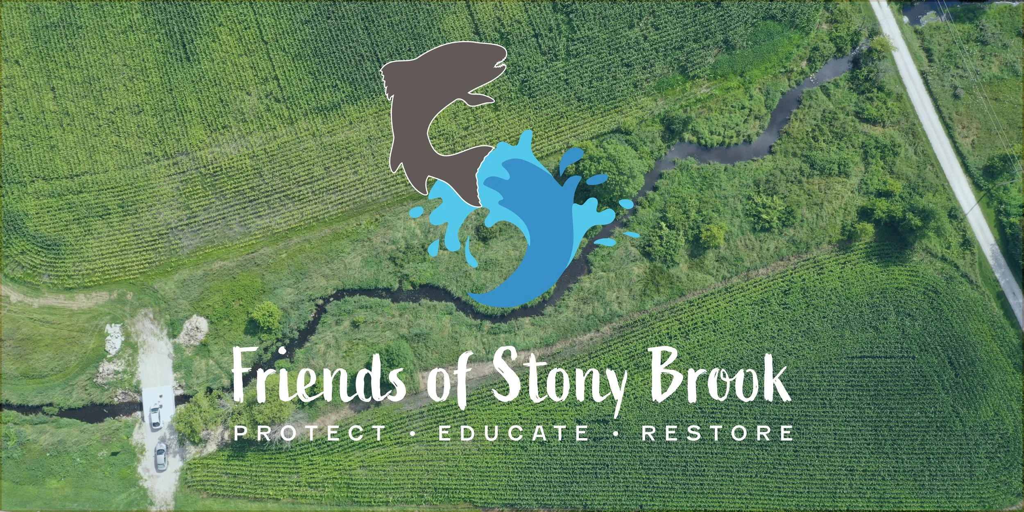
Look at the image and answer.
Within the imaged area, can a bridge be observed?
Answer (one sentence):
Yes, this view includes a bridge.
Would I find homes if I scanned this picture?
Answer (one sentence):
No, no home is visible in the view.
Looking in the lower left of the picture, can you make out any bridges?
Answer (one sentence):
Yes, a bridge can be seen in the lower left of the picture.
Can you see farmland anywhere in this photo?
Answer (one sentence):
Yes, some farmland is visible.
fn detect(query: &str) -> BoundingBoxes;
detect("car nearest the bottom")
[154,442,168,471]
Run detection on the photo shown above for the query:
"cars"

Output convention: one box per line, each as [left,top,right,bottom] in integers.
[154,442,168,471]
[148,404,163,431]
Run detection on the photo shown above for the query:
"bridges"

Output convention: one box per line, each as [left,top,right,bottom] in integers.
[139,385,181,424]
